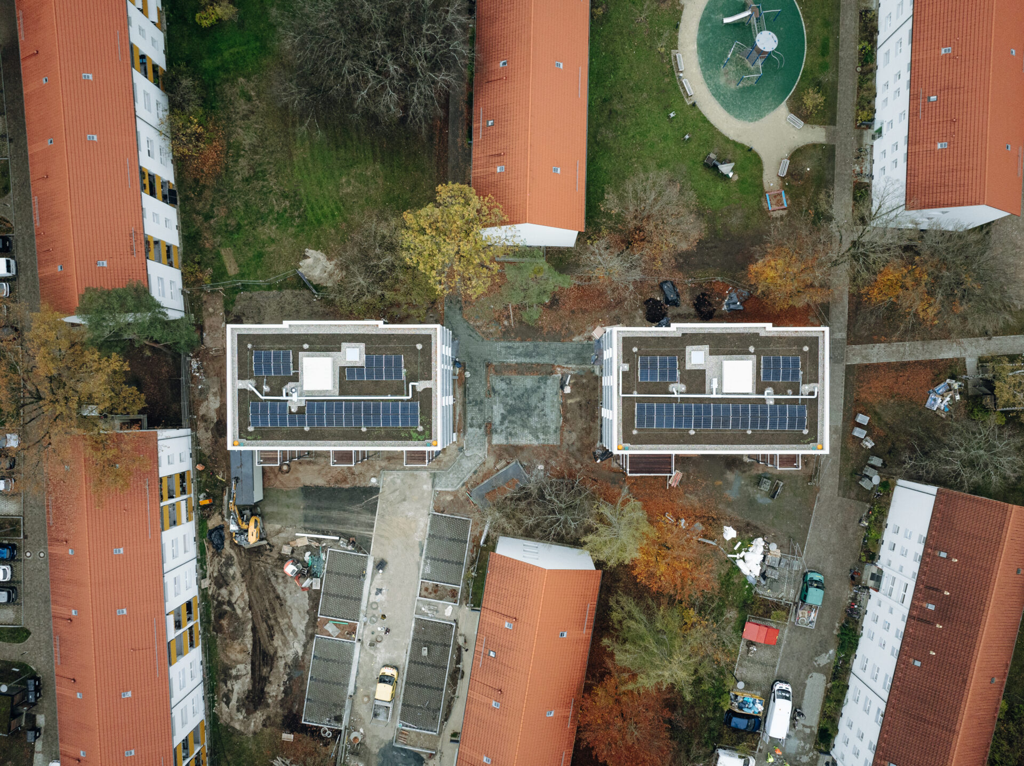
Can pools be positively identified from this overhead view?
No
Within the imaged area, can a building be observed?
Yes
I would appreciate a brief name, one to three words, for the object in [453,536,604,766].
house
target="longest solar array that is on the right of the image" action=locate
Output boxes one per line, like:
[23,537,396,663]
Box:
[635,404,807,429]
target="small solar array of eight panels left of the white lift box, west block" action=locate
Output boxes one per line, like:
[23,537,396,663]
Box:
[252,351,293,375]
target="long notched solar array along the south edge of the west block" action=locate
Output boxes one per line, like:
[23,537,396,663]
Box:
[249,402,420,426]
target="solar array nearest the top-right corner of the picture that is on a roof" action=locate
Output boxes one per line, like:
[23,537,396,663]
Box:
[761,356,800,381]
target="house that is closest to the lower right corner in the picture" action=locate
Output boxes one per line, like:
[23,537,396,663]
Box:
[827,480,1024,766]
